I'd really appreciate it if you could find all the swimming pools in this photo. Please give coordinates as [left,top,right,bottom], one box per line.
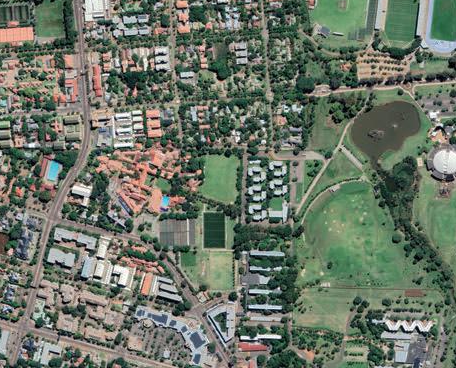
[162,196,170,206]
[45,158,62,183]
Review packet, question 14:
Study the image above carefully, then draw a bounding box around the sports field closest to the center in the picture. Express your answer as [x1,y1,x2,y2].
[202,154,239,203]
